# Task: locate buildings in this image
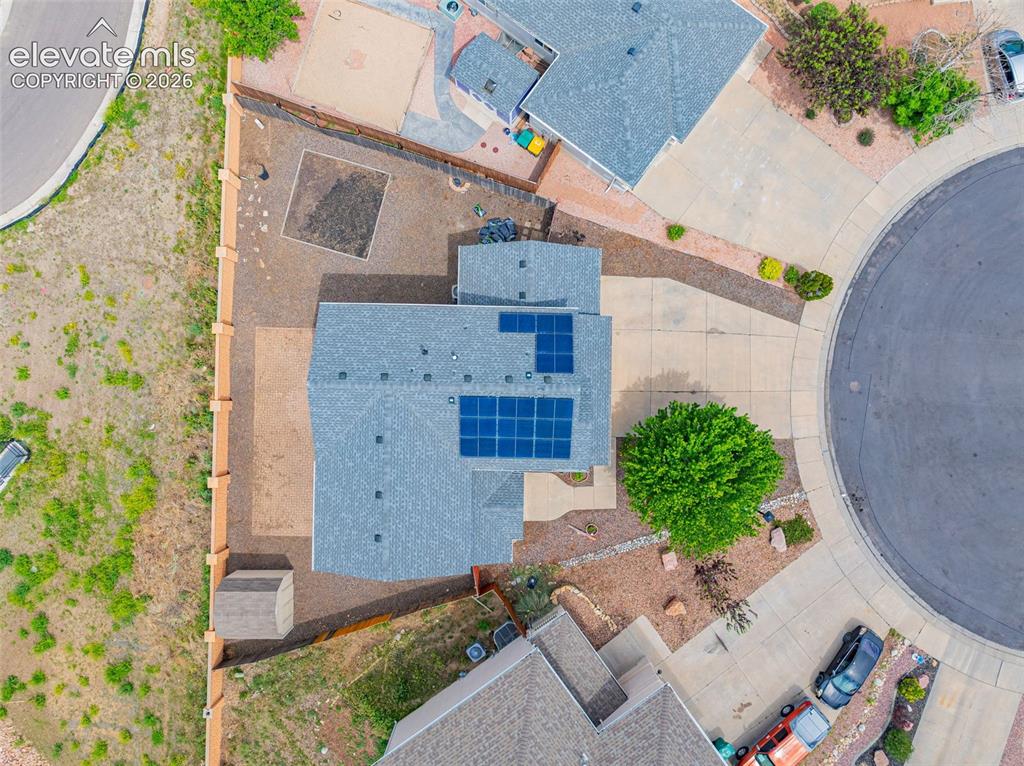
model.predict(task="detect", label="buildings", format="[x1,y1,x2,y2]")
[458,0,769,194]
[214,571,293,639]
[307,240,612,580]
[375,611,728,766]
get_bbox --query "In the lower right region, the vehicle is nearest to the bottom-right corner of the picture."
[817,631,885,710]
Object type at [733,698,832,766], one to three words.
truck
